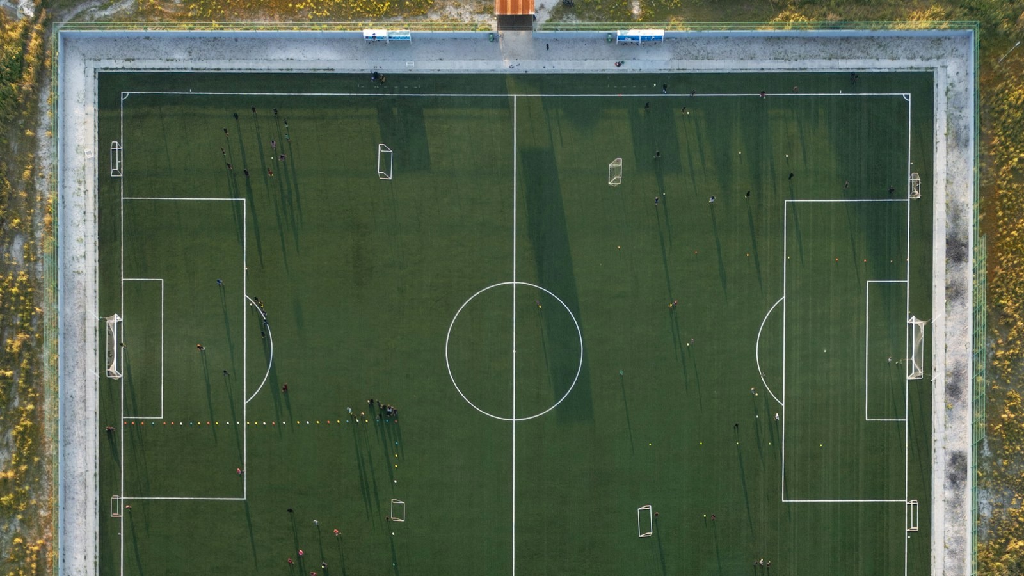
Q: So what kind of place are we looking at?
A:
sports ground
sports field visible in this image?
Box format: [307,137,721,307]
[98,72,934,576]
